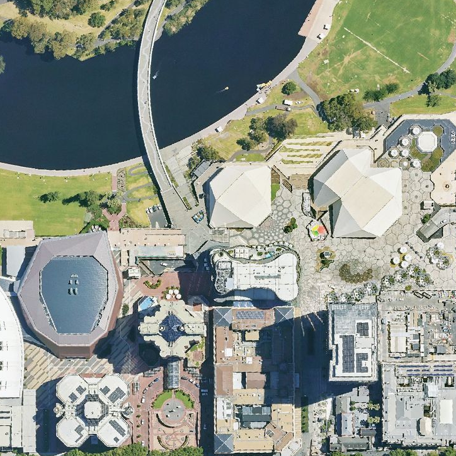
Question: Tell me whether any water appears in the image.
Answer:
Yes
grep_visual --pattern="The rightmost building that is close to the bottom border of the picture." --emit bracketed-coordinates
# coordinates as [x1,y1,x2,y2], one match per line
[382,361,456,447]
